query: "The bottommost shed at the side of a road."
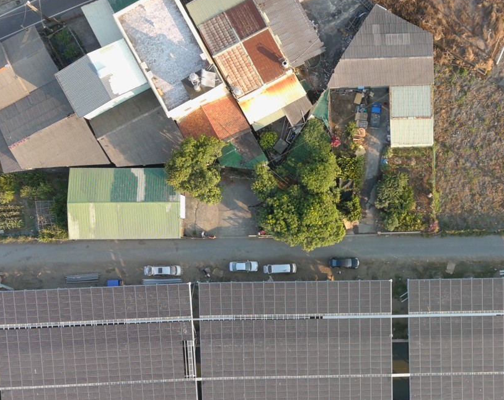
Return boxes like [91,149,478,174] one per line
[67,168,191,239]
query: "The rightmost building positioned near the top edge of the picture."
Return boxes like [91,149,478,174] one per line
[327,5,434,93]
